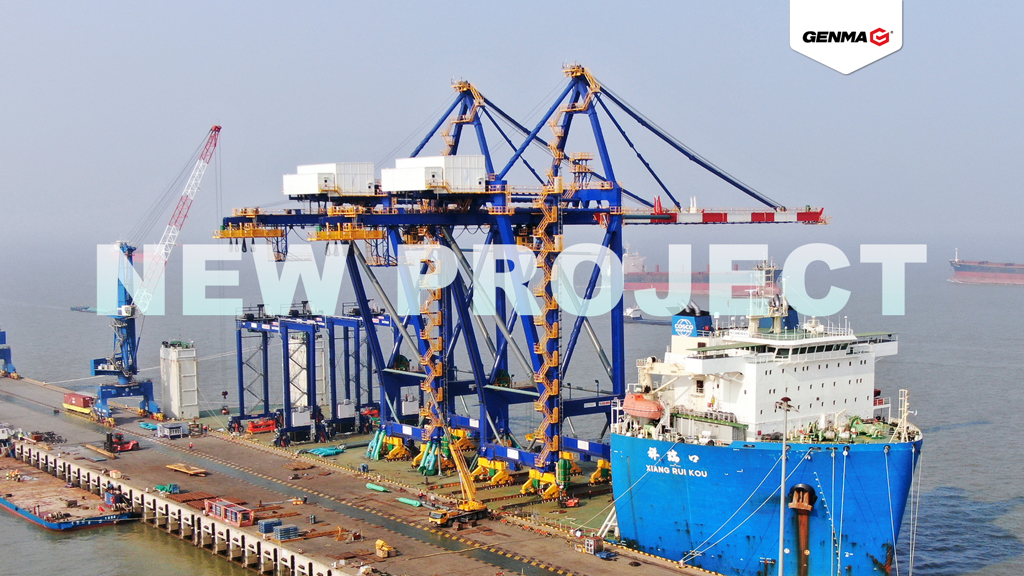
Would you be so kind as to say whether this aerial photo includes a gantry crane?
Yes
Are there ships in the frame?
Yes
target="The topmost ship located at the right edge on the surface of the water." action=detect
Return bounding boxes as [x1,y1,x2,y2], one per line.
[933,237,1024,286]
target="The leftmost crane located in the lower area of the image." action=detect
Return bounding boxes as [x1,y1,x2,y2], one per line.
[0,329,23,380]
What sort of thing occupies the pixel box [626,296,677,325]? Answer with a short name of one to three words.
ship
